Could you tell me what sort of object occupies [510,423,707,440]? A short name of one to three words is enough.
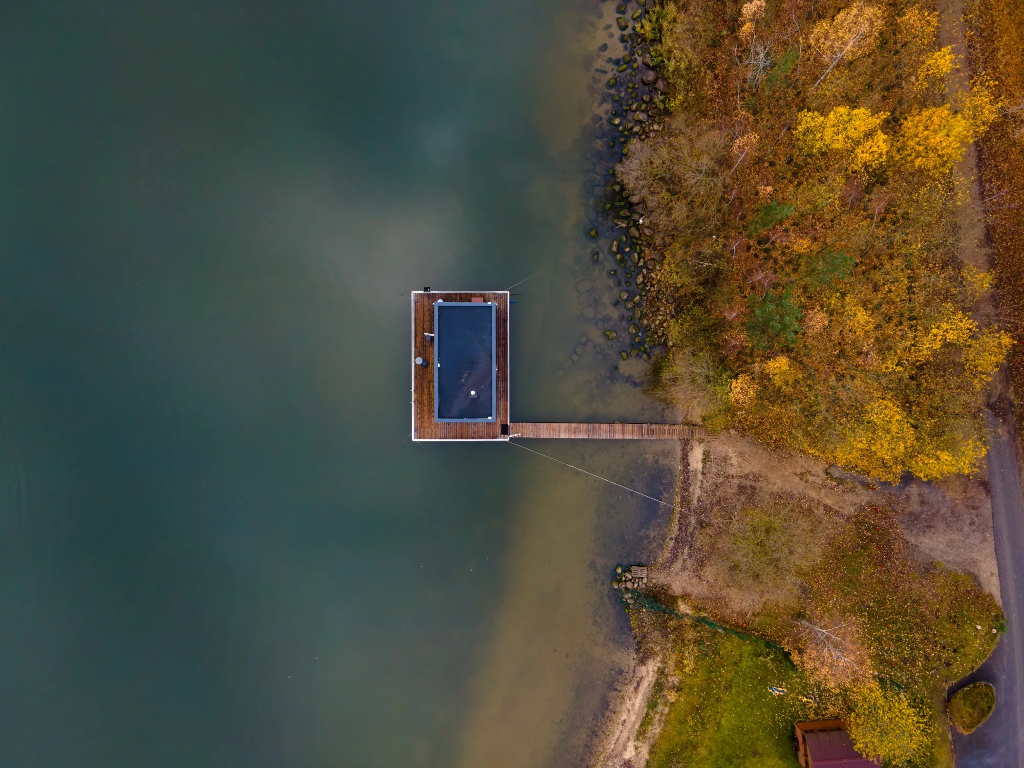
pier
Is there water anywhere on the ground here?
Yes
